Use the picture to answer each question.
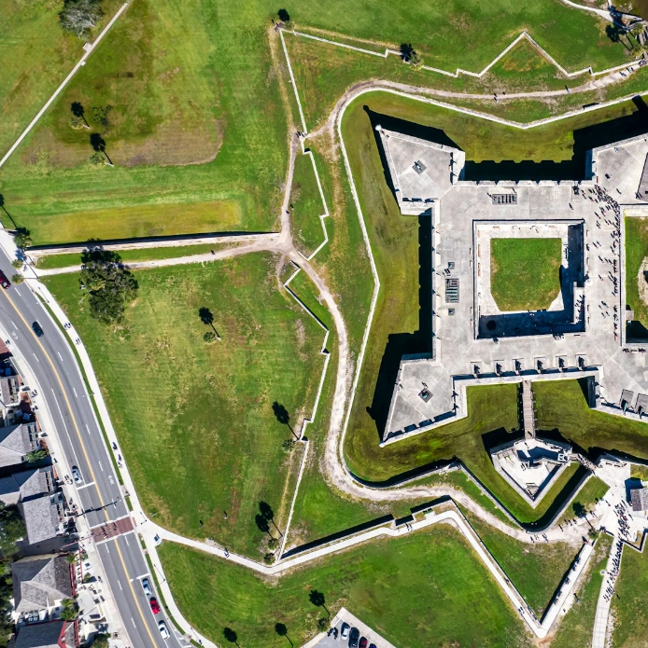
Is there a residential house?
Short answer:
Yes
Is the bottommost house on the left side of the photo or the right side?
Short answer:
left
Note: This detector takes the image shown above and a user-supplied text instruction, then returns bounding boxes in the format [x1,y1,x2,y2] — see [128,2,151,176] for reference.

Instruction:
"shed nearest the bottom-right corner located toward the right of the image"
[630,487,648,511]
